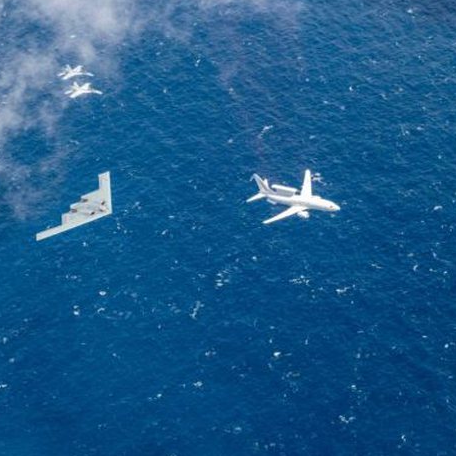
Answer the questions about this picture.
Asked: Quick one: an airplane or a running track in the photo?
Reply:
airplane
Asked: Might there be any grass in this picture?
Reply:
No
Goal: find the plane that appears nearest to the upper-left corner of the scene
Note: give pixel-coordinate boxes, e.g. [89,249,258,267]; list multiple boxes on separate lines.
[60,64,95,80]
